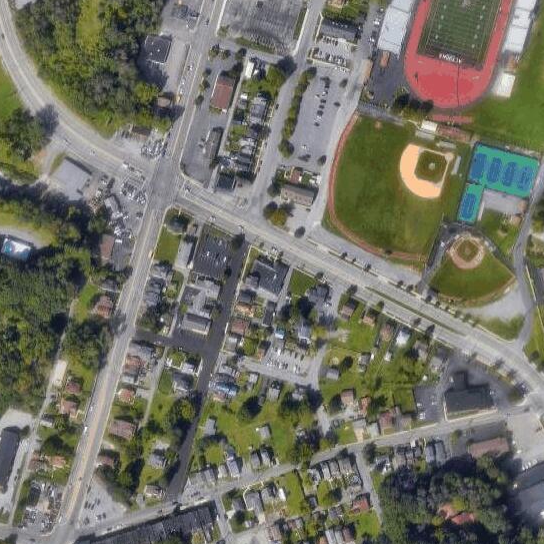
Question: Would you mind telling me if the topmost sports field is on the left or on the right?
right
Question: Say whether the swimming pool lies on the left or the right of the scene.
left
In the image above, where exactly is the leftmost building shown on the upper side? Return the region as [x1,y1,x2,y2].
[48,157,91,200]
